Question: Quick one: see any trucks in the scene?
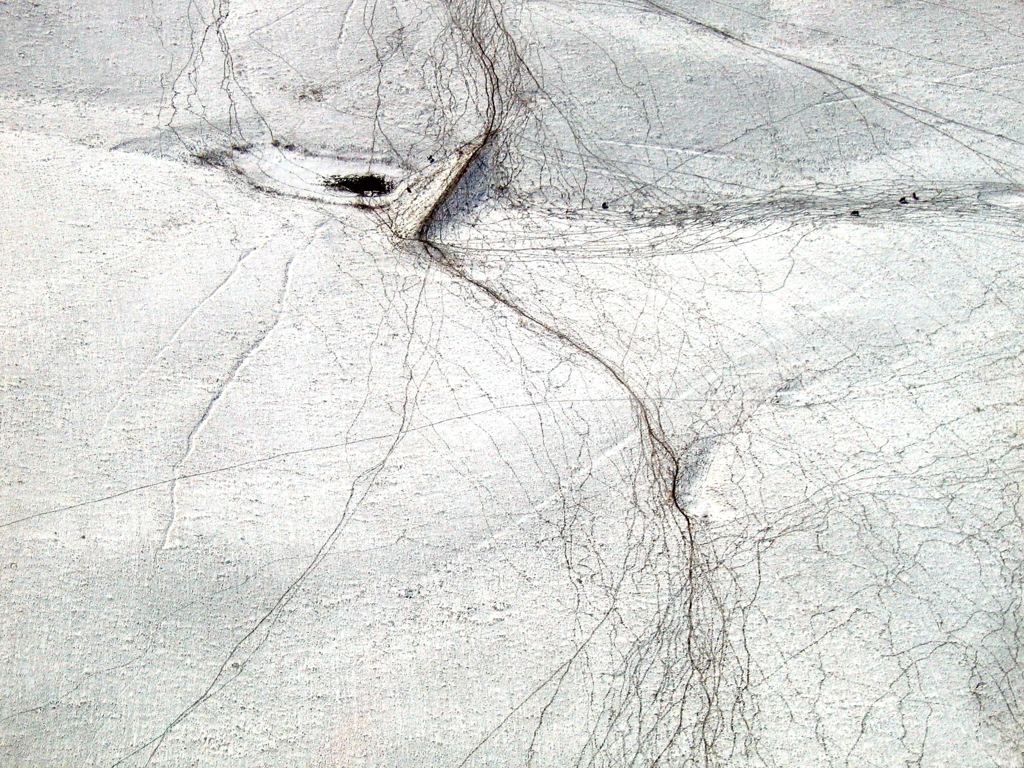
No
